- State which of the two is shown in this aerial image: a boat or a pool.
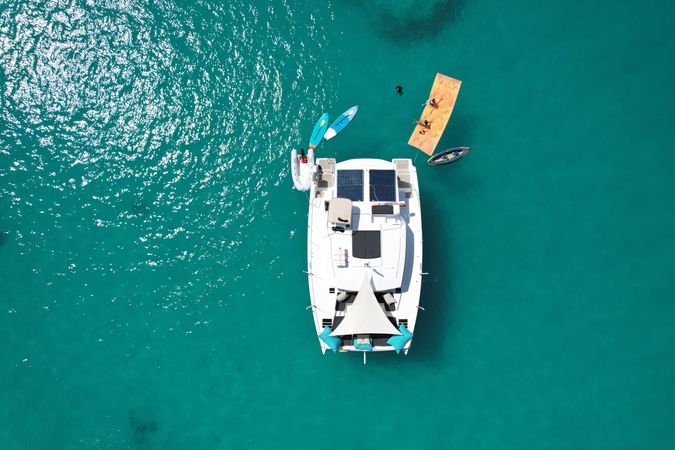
boat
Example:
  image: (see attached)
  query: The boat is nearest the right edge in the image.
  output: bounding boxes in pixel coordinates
[427,147,471,165]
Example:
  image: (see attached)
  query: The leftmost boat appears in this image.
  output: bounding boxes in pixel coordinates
[291,148,314,190]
